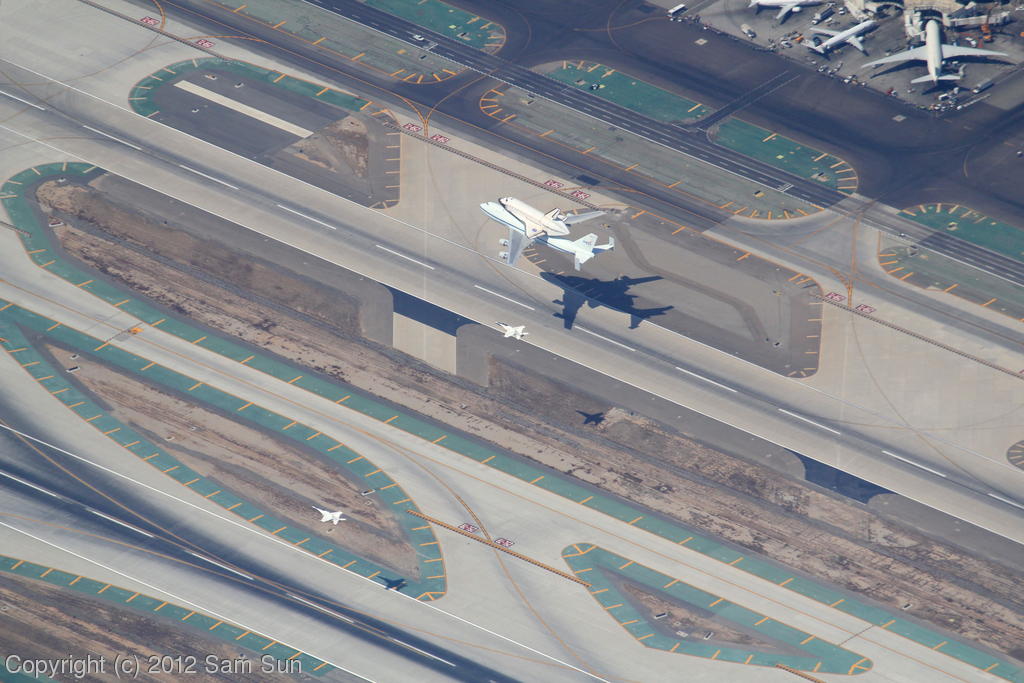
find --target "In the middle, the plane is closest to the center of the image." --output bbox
[496,322,530,337]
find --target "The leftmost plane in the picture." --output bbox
[312,506,346,523]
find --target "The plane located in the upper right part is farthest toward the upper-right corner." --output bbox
[864,19,1006,83]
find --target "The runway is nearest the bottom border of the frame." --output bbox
[0,395,610,683]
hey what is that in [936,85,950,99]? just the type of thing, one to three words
work vehicle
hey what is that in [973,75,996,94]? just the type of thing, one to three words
vehicle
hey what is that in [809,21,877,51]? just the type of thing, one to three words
airplane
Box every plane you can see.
[809,21,877,51]
[496,322,530,337]
[864,19,1006,83]
[479,199,617,271]
[750,0,824,16]
[312,506,346,523]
